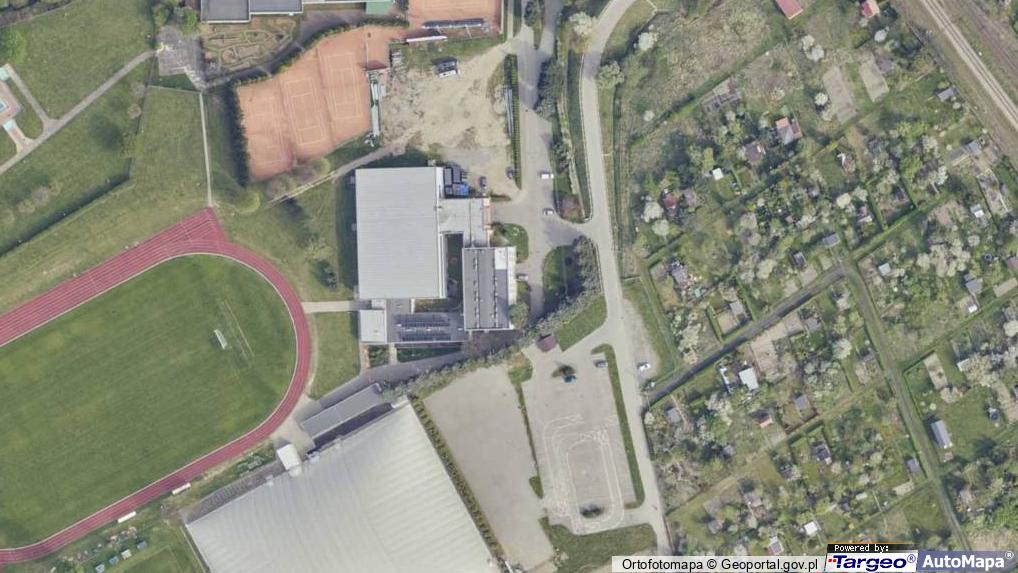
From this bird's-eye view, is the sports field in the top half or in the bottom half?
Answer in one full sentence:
The sports field is in the bottom half of the image.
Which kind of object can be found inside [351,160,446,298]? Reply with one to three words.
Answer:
building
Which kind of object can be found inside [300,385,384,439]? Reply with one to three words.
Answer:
building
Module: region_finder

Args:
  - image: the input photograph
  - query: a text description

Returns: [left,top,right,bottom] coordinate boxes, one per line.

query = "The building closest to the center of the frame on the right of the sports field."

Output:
[462,247,517,332]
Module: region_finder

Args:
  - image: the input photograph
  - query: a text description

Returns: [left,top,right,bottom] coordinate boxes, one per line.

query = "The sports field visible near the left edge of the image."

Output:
[0,254,296,549]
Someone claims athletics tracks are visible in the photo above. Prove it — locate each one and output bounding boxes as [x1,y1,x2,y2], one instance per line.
[0,205,311,564]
